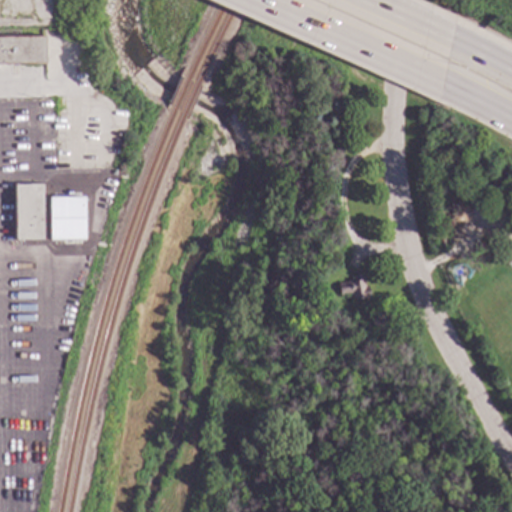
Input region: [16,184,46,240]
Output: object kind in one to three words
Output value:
building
